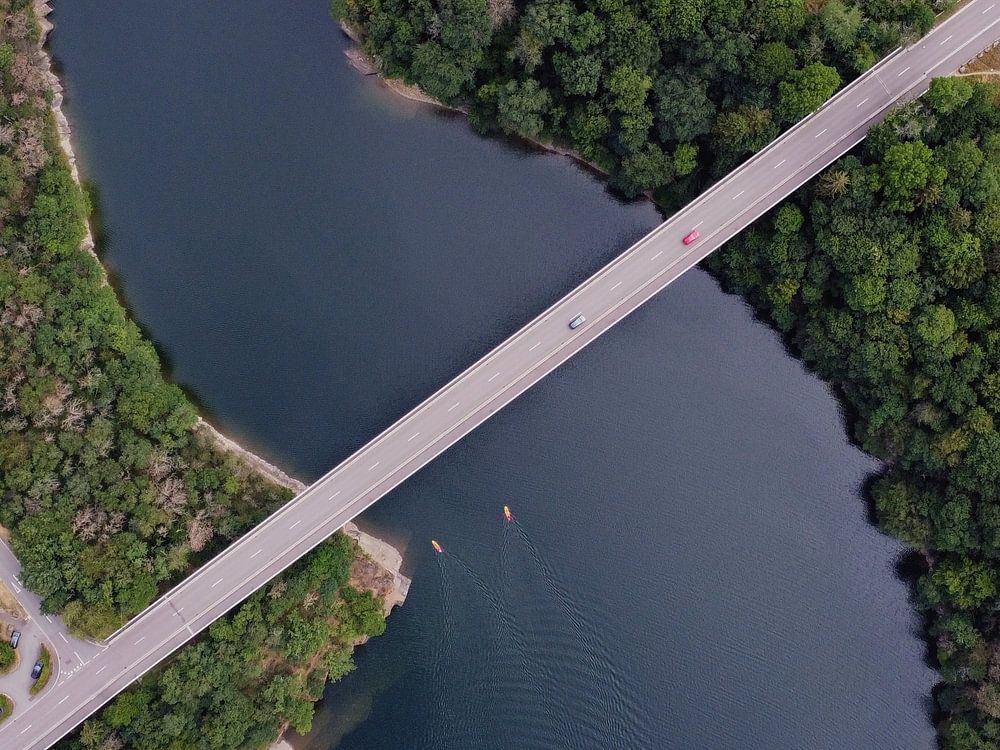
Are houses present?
No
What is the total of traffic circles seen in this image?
0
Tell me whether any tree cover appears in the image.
Yes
